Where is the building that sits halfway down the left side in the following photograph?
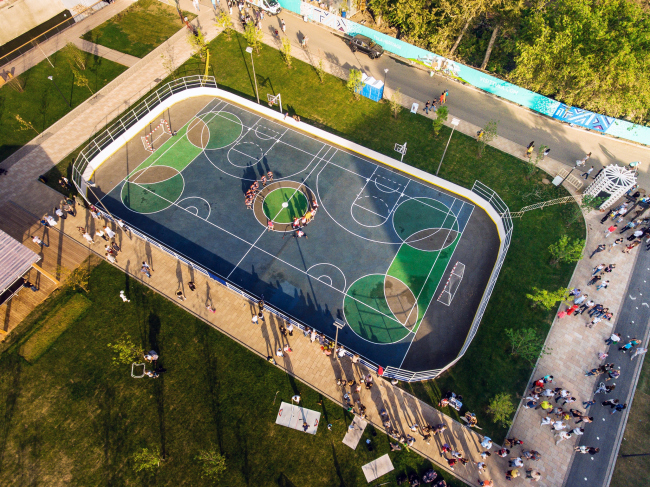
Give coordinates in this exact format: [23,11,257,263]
[0,227,58,323]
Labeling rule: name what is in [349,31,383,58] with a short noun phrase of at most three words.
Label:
car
